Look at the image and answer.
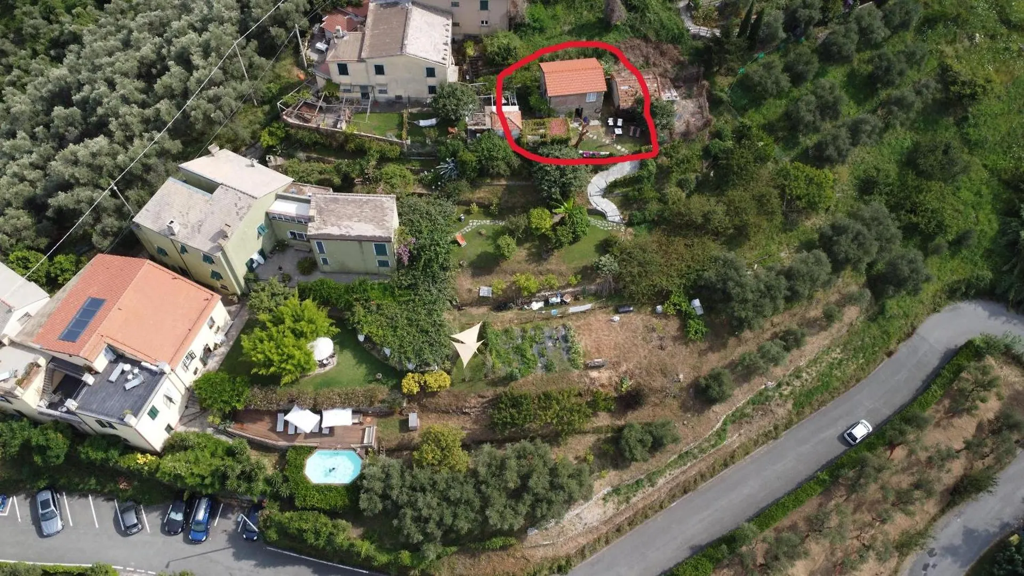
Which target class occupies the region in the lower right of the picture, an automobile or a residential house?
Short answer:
automobile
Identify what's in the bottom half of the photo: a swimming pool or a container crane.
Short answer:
swimming pool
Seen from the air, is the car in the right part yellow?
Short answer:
No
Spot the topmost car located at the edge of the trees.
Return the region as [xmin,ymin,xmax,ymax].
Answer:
[843,418,874,444]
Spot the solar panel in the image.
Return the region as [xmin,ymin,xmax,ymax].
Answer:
[57,296,105,342]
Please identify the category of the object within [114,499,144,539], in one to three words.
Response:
car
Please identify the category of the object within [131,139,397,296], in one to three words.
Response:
building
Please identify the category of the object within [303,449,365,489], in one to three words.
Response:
swimming pool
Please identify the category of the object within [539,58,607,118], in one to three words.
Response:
house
